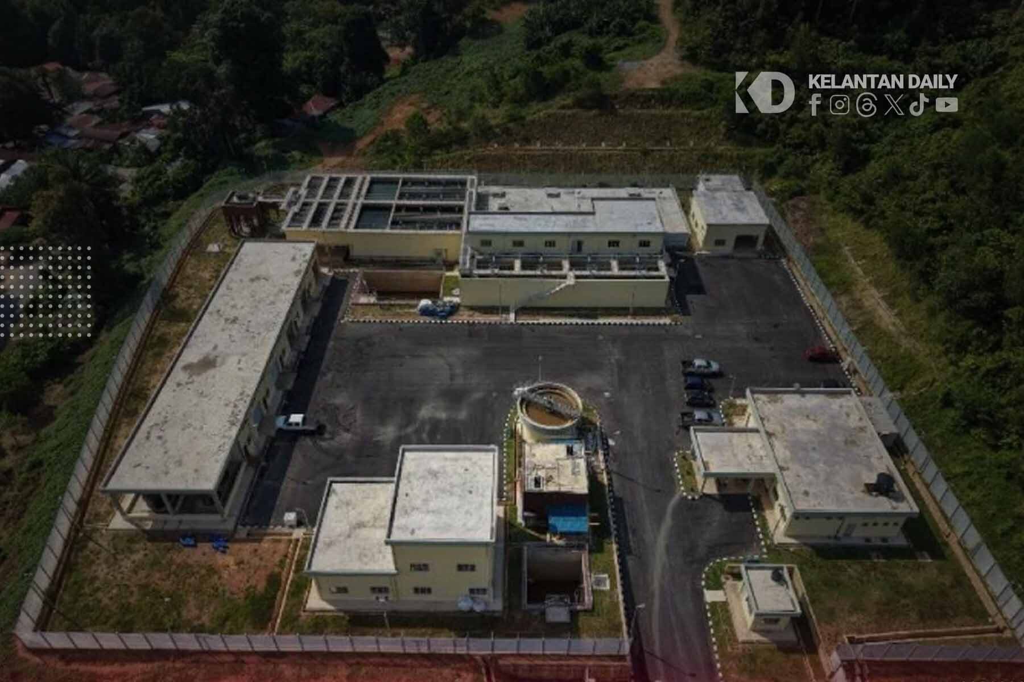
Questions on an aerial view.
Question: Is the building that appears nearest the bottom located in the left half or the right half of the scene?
right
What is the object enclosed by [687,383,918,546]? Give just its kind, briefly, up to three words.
building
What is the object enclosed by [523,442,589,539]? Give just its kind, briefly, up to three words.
building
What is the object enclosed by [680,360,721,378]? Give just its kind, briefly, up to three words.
vehicle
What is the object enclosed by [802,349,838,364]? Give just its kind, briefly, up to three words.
car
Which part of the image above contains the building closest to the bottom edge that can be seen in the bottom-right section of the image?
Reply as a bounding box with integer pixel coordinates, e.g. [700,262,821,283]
[730,566,802,642]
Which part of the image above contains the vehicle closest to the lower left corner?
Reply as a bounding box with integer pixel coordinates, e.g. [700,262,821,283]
[275,412,320,431]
